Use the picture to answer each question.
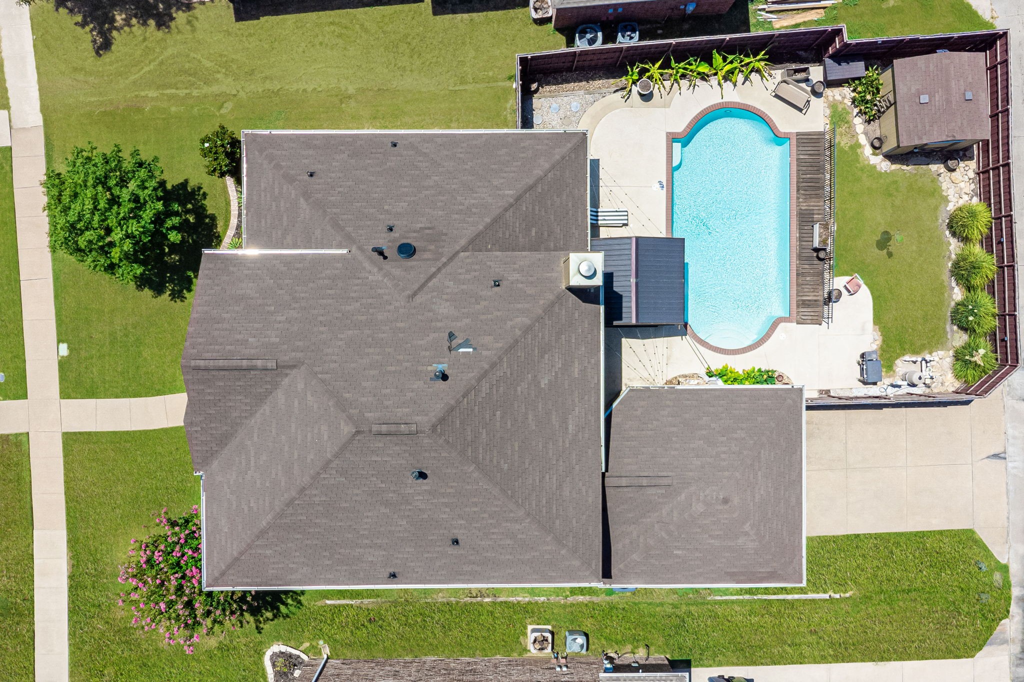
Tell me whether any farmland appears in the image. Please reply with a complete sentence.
No, farmland can't be seen anywhere here.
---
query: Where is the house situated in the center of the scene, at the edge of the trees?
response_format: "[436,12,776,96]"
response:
[181,129,808,588]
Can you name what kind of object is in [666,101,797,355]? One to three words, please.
swimming pool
